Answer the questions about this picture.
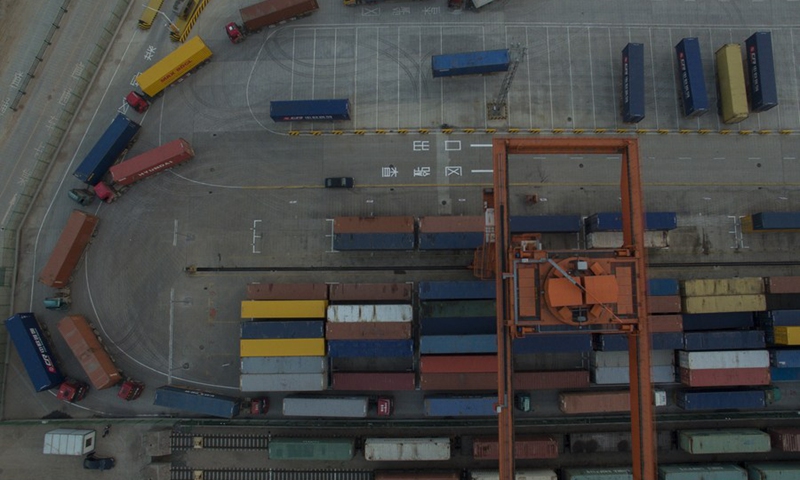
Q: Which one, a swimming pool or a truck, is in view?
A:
truck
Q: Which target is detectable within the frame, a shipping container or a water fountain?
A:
shipping container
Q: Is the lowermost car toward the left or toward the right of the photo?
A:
left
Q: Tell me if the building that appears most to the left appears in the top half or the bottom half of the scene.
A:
bottom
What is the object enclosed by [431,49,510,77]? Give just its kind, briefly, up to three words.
shipping container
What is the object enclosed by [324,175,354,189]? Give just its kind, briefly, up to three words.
car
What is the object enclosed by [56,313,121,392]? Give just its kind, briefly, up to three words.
shipping container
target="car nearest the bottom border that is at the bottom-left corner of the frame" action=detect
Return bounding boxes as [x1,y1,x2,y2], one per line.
[83,451,116,472]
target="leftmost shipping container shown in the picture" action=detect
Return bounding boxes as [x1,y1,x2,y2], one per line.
[5,312,62,394]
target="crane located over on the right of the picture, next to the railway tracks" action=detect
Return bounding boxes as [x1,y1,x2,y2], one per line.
[467,138,664,480]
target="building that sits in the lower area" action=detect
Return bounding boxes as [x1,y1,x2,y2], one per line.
[44,430,95,455]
